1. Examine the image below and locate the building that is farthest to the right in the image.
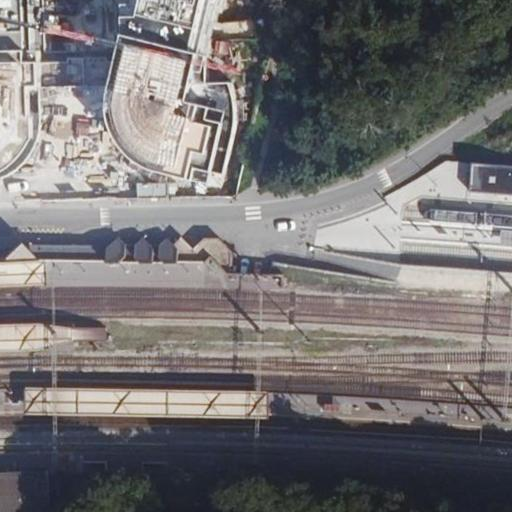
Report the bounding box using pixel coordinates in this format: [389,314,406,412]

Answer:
[458,160,512,192]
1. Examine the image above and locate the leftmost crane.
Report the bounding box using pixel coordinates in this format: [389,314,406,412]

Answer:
[0,5,110,39]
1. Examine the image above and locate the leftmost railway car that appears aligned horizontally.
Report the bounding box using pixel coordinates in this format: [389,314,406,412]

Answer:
[420,208,477,222]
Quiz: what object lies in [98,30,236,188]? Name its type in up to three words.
building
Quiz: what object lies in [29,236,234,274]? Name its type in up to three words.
building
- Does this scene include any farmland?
No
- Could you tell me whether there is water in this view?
No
